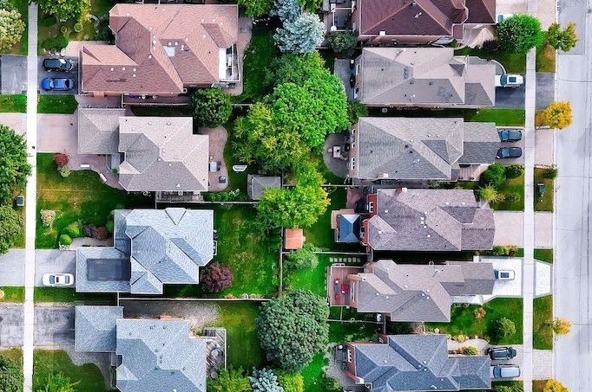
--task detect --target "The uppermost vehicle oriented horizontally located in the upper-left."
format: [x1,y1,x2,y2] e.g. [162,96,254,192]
[41,57,74,73]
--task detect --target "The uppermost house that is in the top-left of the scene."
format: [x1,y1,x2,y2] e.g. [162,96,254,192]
[81,3,241,96]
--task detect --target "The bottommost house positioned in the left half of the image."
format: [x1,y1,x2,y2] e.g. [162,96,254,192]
[75,306,207,392]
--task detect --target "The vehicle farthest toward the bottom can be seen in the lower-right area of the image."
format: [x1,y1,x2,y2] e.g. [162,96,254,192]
[491,364,522,379]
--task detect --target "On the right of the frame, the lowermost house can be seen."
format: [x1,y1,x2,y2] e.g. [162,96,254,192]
[347,334,491,392]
